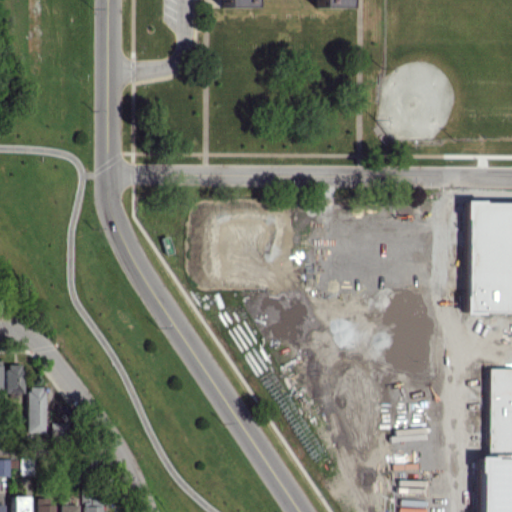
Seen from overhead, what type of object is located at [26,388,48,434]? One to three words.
house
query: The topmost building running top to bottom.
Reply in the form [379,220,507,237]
[463,200,512,316]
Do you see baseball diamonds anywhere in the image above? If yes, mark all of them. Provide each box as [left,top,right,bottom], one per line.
[380,60,454,139]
